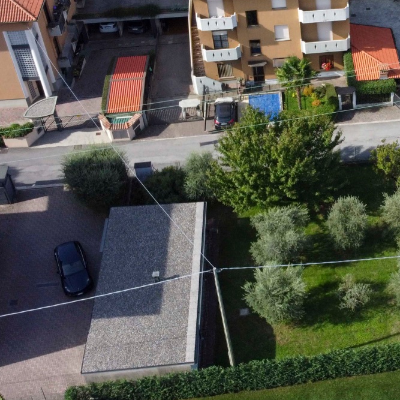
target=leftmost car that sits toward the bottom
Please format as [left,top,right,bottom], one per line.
[52,238,94,298]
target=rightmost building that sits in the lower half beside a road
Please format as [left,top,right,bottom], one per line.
[80,197,211,394]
